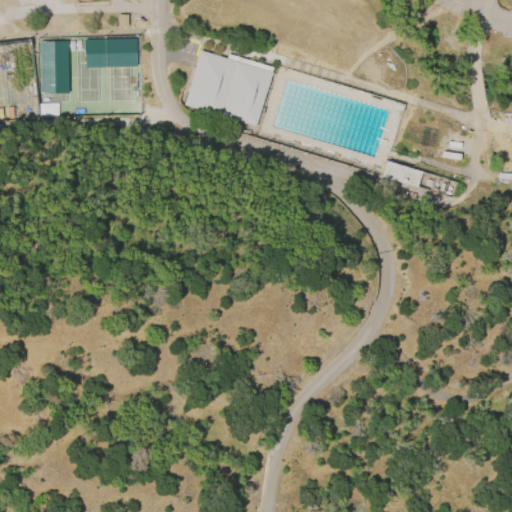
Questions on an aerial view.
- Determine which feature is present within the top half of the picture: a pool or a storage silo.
pool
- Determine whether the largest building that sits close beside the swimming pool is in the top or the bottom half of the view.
top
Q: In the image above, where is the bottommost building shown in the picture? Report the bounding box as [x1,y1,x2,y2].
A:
[383,160,424,188]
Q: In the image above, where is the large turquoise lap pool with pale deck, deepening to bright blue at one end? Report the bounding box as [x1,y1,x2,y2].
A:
[256,67,408,173]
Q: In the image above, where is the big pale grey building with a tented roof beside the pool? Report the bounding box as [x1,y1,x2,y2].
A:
[187,50,274,127]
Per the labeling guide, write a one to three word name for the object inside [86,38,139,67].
building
